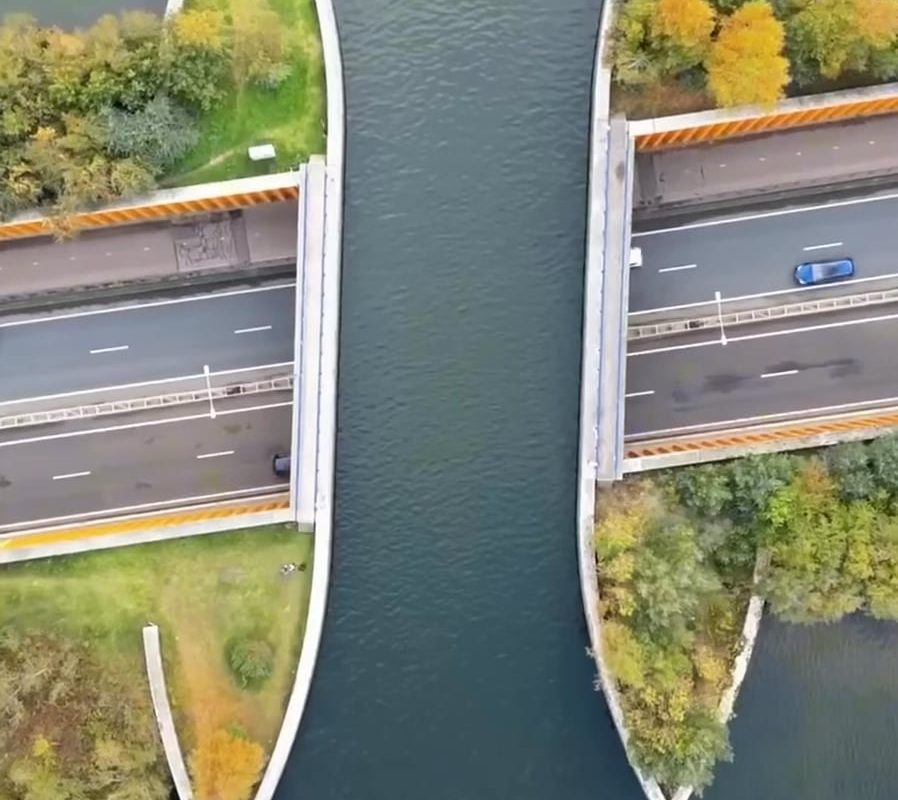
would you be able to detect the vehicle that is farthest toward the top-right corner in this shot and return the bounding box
[794,257,855,286]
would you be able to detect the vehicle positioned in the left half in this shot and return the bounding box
[272,453,291,475]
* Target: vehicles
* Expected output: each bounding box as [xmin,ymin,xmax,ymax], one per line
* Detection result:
[794,257,855,286]
[272,453,291,475]
[630,248,640,272]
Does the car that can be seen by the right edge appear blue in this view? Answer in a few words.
Yes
